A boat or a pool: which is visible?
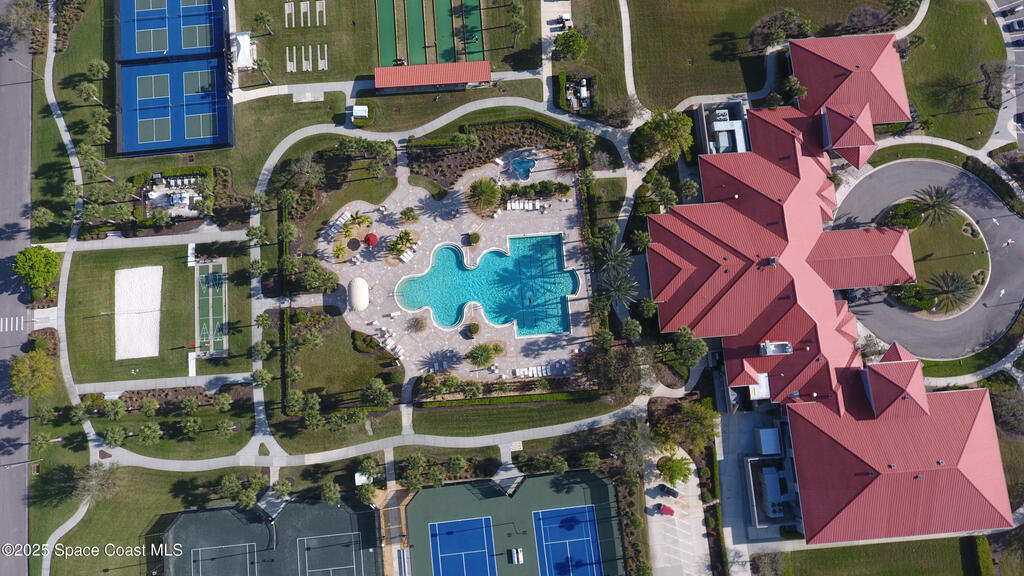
pool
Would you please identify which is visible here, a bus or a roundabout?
roundabout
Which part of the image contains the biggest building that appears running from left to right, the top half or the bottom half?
top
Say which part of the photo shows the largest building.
right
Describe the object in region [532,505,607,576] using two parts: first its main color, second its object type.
blue tennis court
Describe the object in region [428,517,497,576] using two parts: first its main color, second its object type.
blue tennis court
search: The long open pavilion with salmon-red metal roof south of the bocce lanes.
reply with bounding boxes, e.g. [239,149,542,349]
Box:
[375,61,493,97]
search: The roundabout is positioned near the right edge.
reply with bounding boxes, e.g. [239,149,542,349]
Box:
[870,197,992,322]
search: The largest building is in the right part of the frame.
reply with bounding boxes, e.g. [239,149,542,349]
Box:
[646,32,1013,545]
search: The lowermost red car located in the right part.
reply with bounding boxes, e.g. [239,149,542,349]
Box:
[656,501,677,516]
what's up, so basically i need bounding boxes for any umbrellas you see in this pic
[365,234,378,247]
[148,189,160,199]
